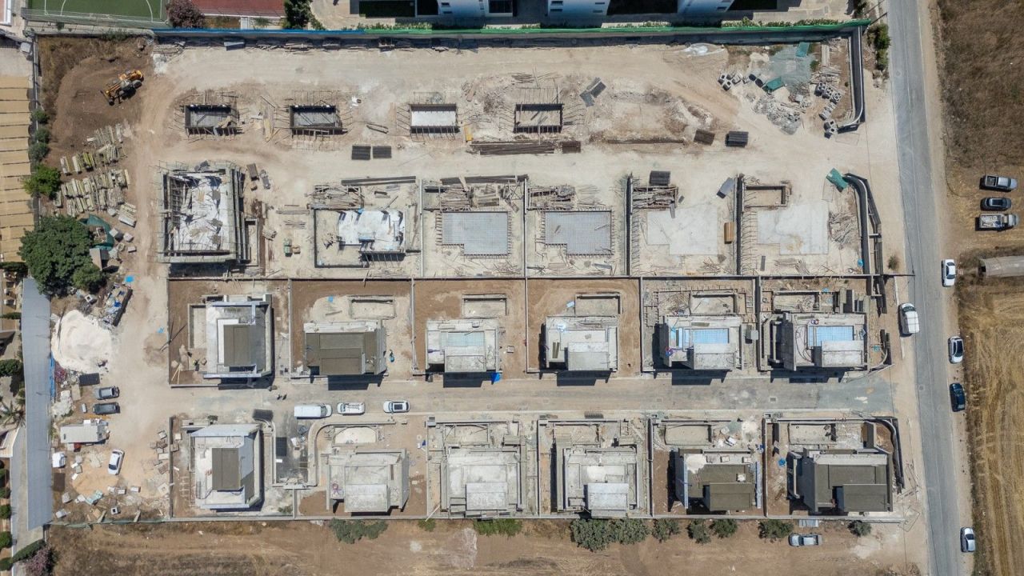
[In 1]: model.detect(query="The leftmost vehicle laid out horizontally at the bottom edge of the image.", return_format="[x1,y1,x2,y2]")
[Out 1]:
[787,532,821,548]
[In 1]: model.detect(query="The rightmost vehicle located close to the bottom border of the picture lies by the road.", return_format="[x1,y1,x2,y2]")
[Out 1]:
[959,526,975,552]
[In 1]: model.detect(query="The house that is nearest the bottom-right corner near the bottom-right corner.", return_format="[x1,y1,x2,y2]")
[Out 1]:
[799,445,892,512]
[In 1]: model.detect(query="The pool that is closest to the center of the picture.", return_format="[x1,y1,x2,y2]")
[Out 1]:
[462,294,507,317]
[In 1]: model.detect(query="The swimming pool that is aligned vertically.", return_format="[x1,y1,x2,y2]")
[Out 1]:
[188,304,210,348]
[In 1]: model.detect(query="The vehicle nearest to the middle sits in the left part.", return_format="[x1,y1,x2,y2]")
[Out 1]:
[384,400,410,414]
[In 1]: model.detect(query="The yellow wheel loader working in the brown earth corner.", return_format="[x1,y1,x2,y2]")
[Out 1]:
[104,70,145,105]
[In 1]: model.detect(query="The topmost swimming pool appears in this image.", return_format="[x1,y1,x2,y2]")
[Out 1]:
[741,185,789,207]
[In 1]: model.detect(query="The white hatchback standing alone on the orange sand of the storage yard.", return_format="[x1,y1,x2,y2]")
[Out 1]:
[108,448,127,475]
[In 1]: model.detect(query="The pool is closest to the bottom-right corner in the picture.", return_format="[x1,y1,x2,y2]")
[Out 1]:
[786,422,833,444]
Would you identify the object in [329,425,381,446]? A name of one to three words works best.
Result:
swimming pool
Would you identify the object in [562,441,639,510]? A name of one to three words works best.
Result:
house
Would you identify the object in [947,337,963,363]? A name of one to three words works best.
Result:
car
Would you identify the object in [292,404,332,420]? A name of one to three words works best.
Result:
vehicle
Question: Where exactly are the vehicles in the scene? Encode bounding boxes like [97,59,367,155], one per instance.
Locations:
[947,382,964,411]
[959,526,975,552]
[108,448,127,475]
[899,303,920,335]
[92,402,121,415]
[979,176,1015,191]
[940,259,955,287]
[94,386,122,400]
[384,400,410,414]
[787,532,821,548]
[979,214,1017,230]
[980,198,1011,212]
[947,337,963,363]
[337,401,365,416]
[104,70,145,105]
[292,404,332,420]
